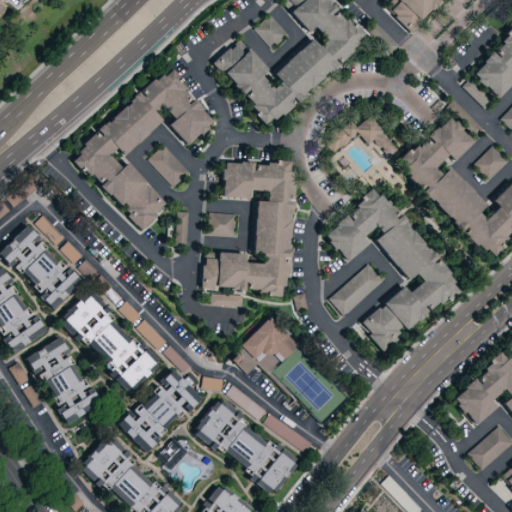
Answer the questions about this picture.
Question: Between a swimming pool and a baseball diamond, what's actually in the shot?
swimming pool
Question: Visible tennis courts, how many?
1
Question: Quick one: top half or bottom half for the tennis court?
bottom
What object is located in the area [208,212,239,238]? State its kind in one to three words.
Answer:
building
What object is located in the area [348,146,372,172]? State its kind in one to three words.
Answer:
swimming pool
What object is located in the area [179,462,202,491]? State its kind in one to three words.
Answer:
swimming pool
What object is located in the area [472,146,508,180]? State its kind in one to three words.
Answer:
building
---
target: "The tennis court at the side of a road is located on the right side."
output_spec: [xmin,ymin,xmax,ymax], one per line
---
[272,351,348,422]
